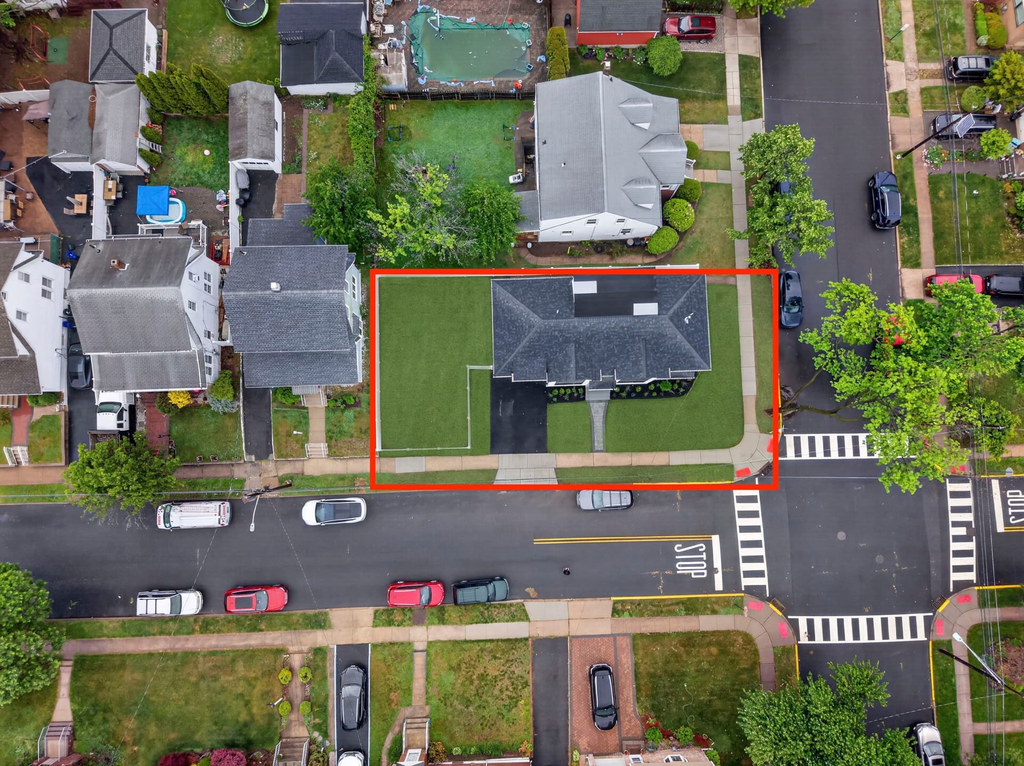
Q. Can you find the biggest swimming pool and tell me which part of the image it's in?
top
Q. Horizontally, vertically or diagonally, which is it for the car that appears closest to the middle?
horizontally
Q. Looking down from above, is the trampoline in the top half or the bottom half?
top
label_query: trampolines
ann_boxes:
[221,0,270,28]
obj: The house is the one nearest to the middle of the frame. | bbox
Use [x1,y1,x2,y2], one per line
[490,272,713,401]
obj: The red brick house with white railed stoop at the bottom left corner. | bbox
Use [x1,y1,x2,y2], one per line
[38,720,83,766]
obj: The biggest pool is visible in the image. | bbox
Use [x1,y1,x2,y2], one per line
[408,8,531,82]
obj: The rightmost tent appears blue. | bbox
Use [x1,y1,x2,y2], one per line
[137,185,183,223]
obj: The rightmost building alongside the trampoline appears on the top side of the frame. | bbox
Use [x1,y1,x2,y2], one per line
[277,1,367,98]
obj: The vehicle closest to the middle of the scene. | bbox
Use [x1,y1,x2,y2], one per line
[574,486,635,515]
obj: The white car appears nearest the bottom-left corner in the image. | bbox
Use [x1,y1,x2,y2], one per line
[133,587,206,619]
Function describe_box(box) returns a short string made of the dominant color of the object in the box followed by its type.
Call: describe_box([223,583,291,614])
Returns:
red car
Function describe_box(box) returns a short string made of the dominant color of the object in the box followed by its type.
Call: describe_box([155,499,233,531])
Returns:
white vehicle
